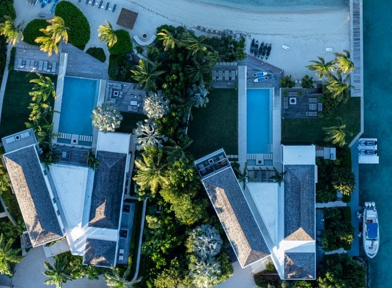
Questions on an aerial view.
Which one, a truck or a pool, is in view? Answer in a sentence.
Looking from above, you can make out a pool.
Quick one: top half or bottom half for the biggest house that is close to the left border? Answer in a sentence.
Seen from above, the biggest house that is close to the left border lies in the bottom half of the view.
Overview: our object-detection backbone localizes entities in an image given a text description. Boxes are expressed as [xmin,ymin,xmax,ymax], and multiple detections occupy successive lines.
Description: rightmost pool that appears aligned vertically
[238,65,281,165]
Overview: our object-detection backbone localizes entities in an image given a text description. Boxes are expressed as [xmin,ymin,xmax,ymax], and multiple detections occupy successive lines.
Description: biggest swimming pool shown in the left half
[53,53,106,150]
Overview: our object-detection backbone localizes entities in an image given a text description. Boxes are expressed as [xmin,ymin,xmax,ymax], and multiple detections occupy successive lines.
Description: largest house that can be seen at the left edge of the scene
[1,128,131,268]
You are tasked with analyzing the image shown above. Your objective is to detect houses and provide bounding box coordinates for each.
[194,144,316,280]
[1,128,131,268]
